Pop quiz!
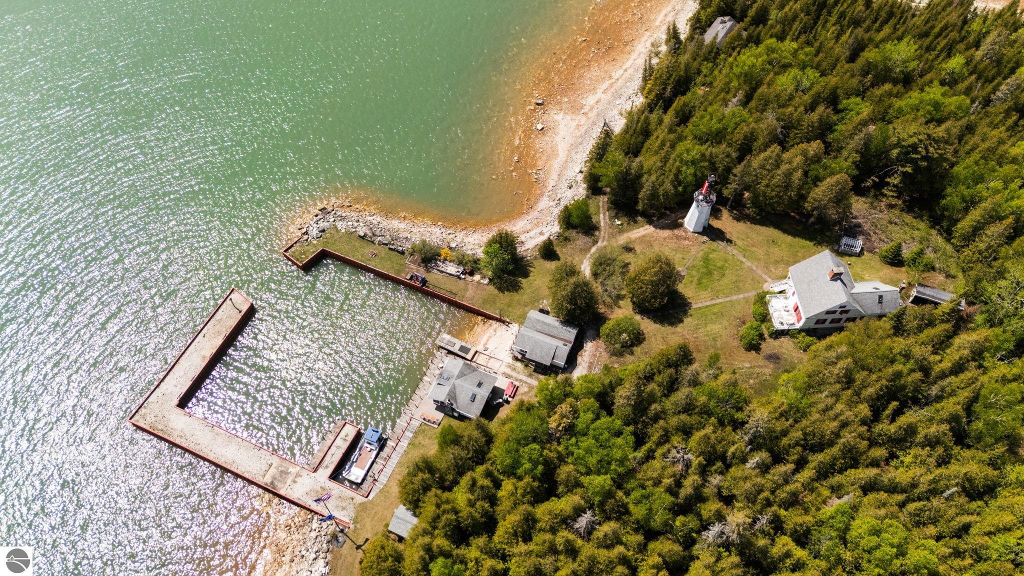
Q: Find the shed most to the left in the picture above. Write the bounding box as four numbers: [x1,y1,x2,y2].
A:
[388,506,424,534]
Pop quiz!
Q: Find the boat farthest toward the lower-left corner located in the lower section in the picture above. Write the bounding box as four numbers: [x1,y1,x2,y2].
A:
[343,423,385,487]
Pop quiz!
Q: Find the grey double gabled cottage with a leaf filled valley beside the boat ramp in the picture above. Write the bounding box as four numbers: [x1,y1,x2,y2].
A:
[508,310,582,371]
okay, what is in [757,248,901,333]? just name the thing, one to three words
house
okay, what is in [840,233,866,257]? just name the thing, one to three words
greenhouse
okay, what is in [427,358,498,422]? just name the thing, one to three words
building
